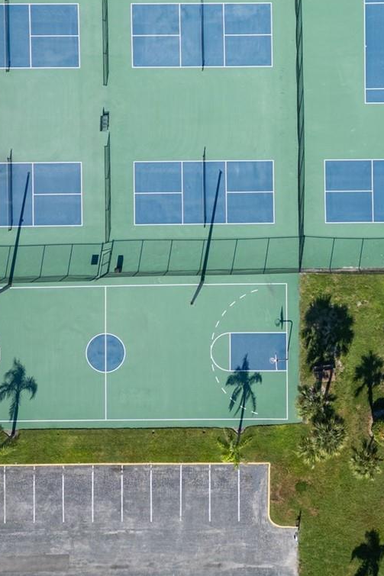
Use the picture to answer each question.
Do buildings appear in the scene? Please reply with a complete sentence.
No, no building is visible in the view.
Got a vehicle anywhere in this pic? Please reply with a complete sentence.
No, there's no vehicle here.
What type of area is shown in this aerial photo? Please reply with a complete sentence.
It's a sports ground.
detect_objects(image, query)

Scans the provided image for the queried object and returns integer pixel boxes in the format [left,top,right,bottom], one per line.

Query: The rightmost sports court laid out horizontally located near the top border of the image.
[130,1,273,67]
